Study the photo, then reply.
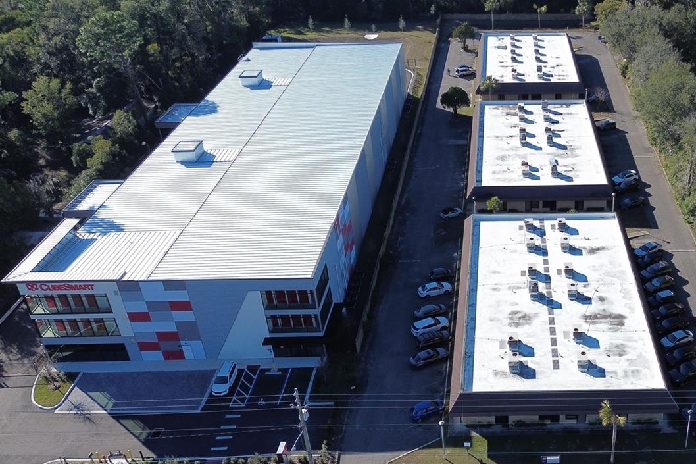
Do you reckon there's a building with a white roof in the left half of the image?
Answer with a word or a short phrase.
Yes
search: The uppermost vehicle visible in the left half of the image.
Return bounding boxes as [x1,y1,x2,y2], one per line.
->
[210,354,242,397]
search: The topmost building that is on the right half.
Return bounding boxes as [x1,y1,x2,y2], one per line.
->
[475,33,586,101]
